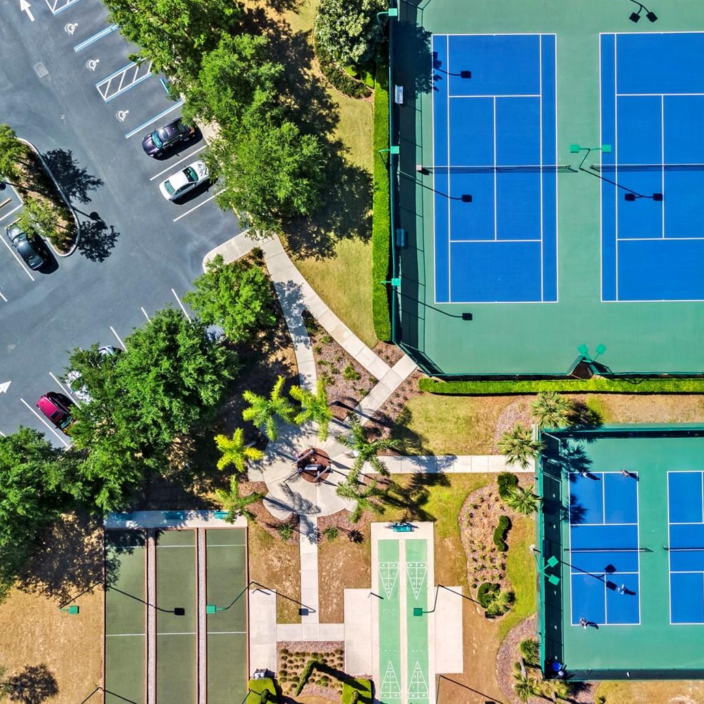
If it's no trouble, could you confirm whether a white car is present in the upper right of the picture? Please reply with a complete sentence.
No, there's no white car to be seen in the upper right of the picture.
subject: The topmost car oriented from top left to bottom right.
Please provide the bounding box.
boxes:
[2,221,47,273]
